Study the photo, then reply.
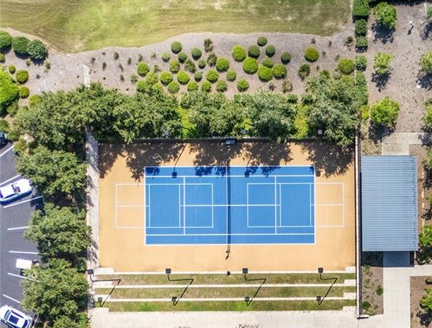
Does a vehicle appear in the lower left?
Yes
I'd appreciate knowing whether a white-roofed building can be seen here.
No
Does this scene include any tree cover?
Yes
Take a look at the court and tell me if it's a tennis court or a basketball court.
tennis court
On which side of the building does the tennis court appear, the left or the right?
to the left of it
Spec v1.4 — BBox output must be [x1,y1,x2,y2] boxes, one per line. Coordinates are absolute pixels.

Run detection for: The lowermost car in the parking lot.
[0,305,29,328]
